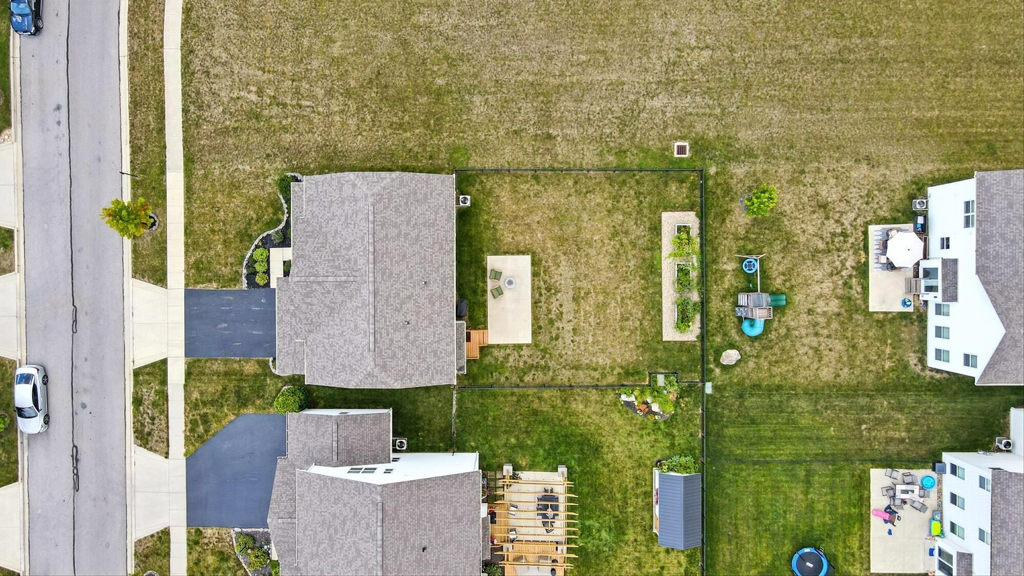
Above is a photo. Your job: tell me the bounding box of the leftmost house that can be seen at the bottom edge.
[268,408,492,576]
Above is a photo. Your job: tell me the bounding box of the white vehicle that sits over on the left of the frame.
[8,365,49,435]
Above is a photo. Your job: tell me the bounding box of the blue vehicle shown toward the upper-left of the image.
[2,0,44,36]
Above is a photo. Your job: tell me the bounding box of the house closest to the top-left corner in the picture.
[274,171,468,388]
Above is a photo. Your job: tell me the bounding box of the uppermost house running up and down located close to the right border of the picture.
[920,169,1024,386]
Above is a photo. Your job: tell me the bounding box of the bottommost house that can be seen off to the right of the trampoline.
[936,407,1024,576]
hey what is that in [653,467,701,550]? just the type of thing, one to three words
shed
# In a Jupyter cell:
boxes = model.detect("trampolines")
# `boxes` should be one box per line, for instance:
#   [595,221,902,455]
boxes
[786,540,836,576]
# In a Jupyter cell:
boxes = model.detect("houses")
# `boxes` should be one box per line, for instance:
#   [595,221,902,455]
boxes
[268,408,492,576]
[936,407,1024,576]
[920,169,1024,386]
[274,171,468,388]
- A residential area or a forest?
residential area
